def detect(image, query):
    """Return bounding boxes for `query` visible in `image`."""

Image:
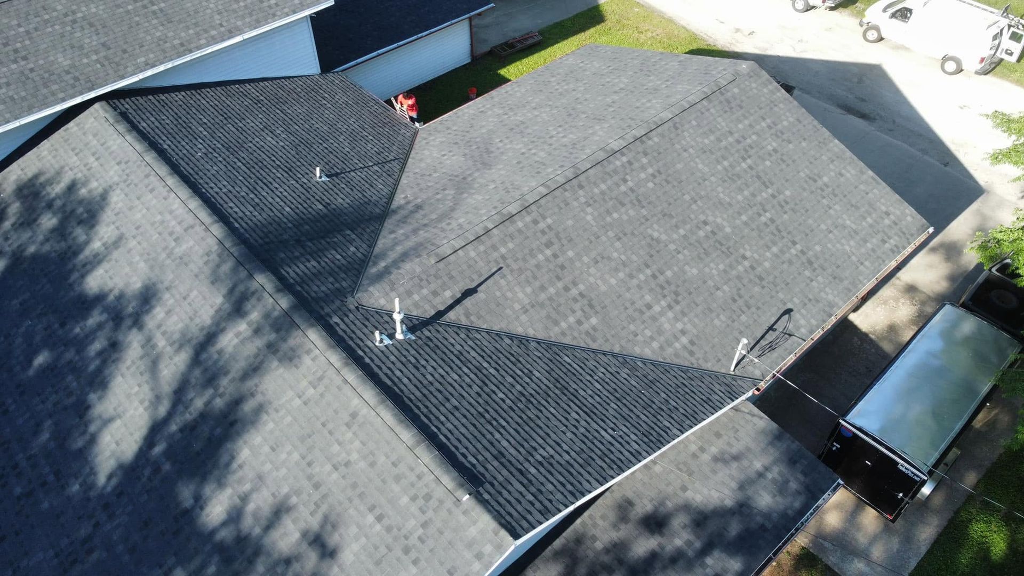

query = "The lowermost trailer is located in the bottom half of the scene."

[820,305,1024,520]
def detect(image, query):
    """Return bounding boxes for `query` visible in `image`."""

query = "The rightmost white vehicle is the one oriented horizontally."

[856,0,1024,79]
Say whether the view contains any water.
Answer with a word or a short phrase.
No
